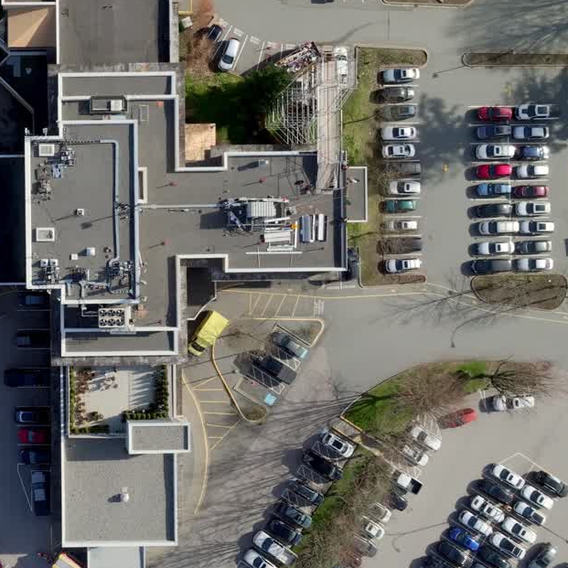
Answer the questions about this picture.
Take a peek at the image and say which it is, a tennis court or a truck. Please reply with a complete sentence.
Visible in the photo is a truck.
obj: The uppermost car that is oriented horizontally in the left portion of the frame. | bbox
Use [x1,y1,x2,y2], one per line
[17,291,51,309]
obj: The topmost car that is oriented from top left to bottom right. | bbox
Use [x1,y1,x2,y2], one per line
[273,330,310,359]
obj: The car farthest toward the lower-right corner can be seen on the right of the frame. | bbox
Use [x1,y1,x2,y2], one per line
[525,543,558,568]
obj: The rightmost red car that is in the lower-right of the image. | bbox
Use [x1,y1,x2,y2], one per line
[438,407,477,431]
